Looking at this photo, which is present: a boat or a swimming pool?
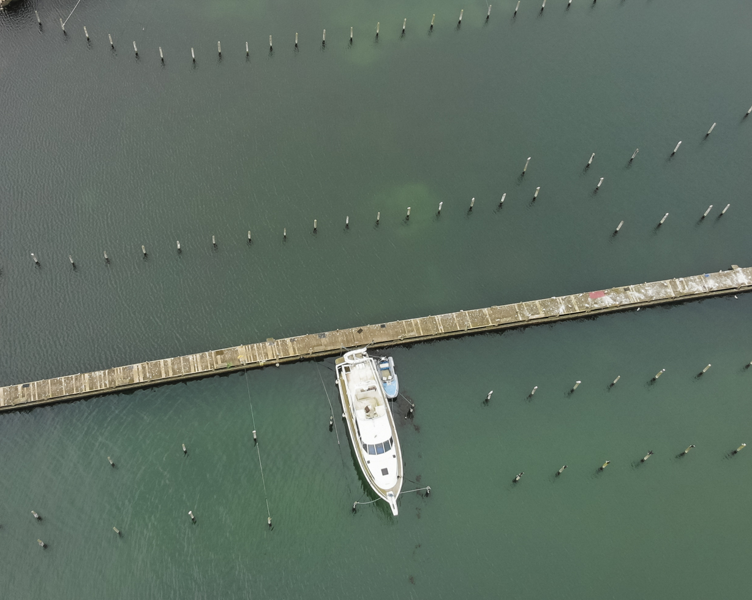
boat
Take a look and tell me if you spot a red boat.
No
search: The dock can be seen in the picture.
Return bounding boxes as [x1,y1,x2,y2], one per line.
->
[0,266,752,415]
